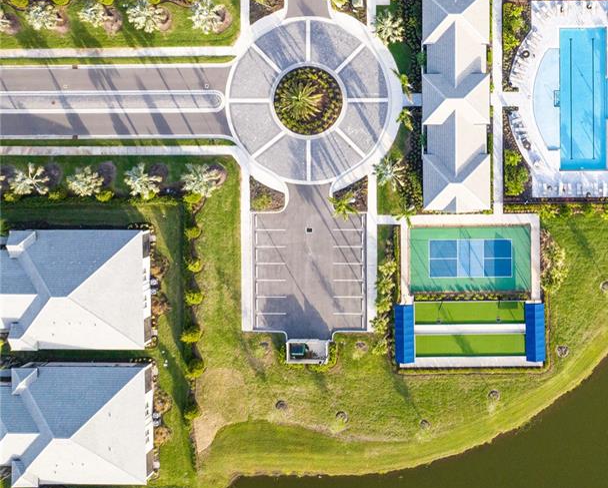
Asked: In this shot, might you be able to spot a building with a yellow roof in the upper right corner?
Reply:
No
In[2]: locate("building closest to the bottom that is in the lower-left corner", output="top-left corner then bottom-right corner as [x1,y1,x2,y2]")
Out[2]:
[0,361,153,486]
